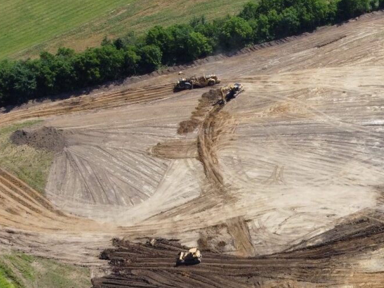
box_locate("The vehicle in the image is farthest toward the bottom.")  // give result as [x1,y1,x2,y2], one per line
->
[175,246,200,265]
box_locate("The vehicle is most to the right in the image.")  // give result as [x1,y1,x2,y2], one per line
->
[213,81,246,100]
